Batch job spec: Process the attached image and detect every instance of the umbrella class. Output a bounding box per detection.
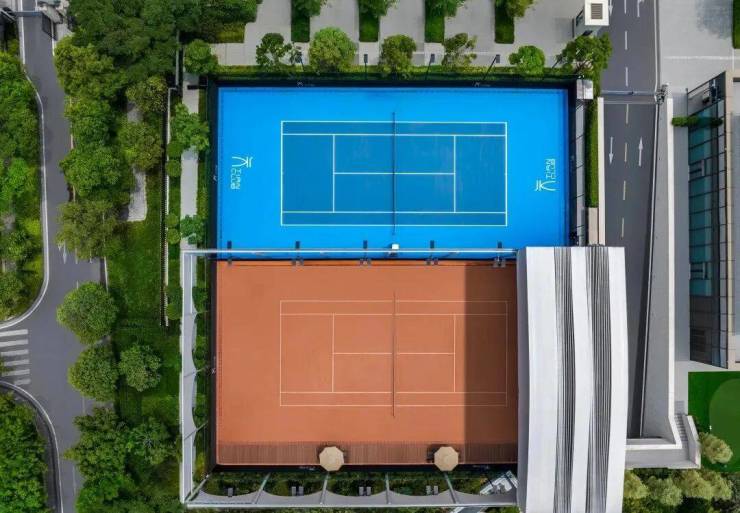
[433,444,459,470]
[318,444,345,471]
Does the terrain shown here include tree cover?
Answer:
Yes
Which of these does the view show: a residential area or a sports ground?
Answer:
sports ground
